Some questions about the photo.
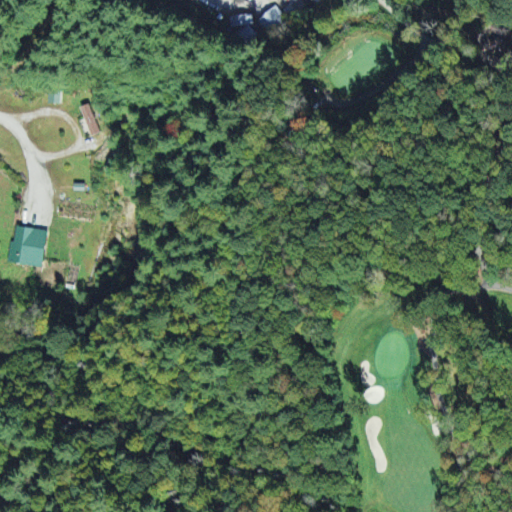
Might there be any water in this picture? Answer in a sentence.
No, the scene doesn't show any water.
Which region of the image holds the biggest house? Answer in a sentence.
Look in the left portion of the view to spot the biggest house.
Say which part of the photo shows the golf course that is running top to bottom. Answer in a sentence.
The golf course that is running top to bottom sits in the bottom right section of the image.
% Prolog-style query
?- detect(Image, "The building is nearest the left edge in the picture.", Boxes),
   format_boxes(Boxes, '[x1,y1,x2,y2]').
[8,226,47,267]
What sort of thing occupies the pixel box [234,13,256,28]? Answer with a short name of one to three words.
house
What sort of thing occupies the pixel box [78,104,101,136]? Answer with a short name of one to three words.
house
